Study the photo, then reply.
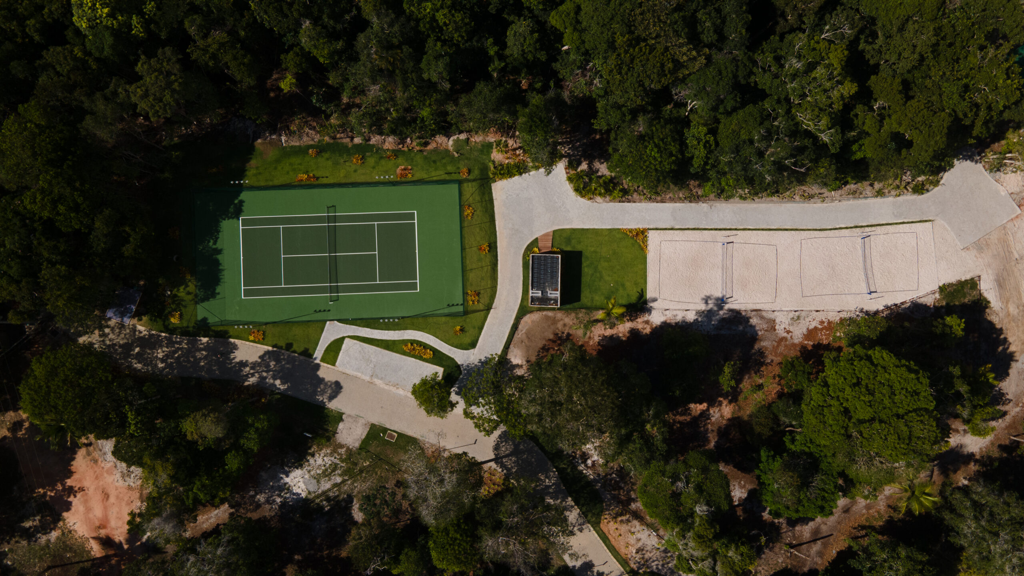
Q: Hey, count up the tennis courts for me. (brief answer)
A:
3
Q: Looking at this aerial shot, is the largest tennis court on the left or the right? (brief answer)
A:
left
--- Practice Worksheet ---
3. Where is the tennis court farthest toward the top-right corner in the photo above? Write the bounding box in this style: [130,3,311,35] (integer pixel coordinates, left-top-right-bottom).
[789,221,938,310]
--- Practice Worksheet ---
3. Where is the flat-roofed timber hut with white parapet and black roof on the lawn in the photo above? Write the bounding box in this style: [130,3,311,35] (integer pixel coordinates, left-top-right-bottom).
[529,255,560,307]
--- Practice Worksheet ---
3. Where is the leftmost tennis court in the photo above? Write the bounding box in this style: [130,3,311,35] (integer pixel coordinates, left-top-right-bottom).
[196,183,463,326]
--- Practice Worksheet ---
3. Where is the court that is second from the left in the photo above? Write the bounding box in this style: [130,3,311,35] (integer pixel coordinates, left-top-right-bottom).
[647,230,789,310]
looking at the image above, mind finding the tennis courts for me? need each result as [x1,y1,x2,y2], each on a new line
[789,221,938,310]
[196,183,463,326]
[647,230,789,310]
